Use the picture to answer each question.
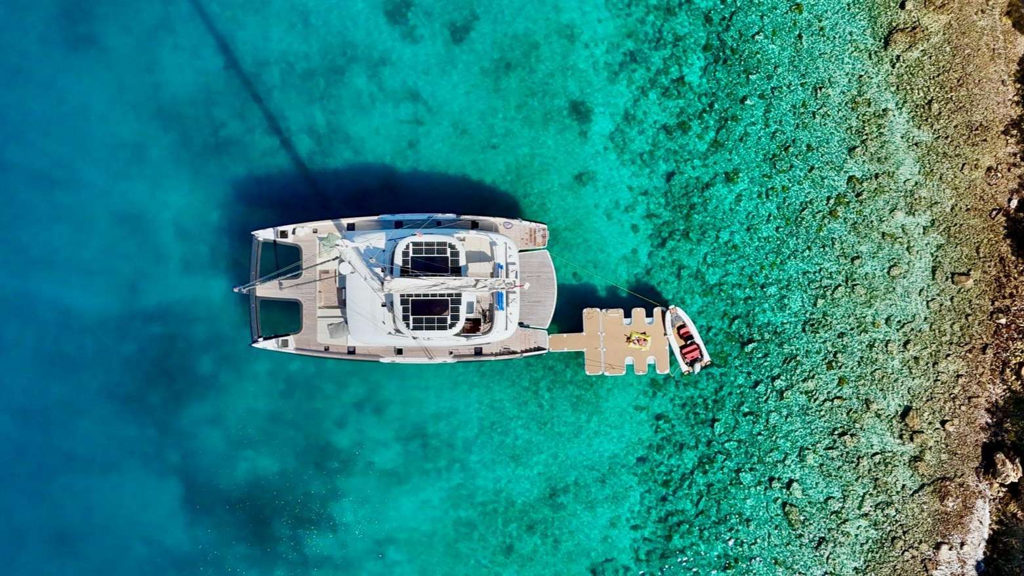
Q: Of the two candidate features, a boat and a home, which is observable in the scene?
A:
boat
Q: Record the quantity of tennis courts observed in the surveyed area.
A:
zero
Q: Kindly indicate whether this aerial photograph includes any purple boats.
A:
No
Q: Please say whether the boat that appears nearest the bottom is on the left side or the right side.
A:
right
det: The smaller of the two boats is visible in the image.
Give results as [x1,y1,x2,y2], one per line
[665,305,712,374]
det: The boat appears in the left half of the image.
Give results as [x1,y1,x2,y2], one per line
[232,214,556,363]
